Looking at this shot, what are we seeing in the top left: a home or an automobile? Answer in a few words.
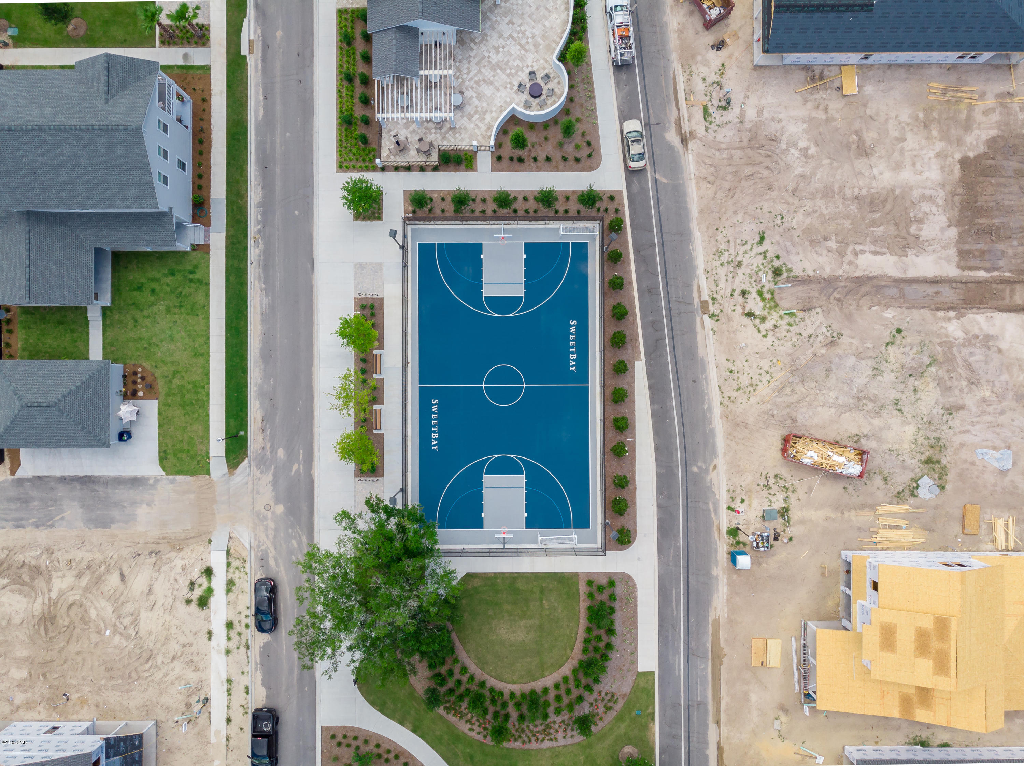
home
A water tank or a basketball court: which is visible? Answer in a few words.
basketball court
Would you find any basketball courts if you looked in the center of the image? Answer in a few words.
Yes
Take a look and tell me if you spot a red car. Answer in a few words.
No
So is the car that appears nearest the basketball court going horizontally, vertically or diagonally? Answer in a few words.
vertically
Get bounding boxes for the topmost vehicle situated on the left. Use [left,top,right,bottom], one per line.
[250,577,277,634]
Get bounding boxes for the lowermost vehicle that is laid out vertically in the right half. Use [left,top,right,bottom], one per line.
[623,116,648,170]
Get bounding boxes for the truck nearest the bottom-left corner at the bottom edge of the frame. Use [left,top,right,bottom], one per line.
[248,704,279,766]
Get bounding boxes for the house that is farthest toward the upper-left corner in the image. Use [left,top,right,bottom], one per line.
[0,52,204,320]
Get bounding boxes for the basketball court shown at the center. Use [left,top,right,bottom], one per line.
[408,224,601,549]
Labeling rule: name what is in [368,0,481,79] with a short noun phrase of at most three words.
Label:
building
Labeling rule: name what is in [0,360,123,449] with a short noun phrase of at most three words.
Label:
building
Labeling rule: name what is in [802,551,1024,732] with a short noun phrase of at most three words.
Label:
house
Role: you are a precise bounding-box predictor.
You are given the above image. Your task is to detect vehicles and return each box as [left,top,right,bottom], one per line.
[623,116,648,170]
[248,704,279,766]
[250,577,277,634]
[604,0,635,66]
